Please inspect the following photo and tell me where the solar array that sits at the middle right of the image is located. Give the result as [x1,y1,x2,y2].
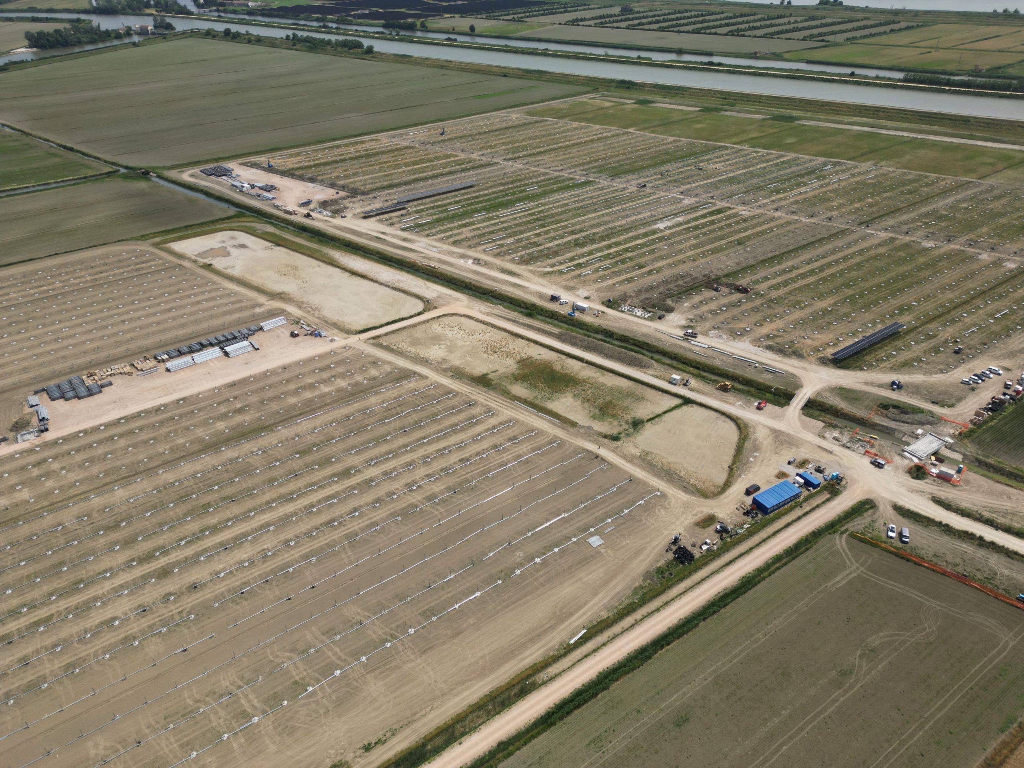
[831,321,906,360]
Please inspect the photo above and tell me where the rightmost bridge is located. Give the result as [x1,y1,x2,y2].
[903,432,949,462]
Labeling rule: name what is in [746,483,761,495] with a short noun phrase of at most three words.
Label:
vehicle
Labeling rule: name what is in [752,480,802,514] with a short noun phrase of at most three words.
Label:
building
